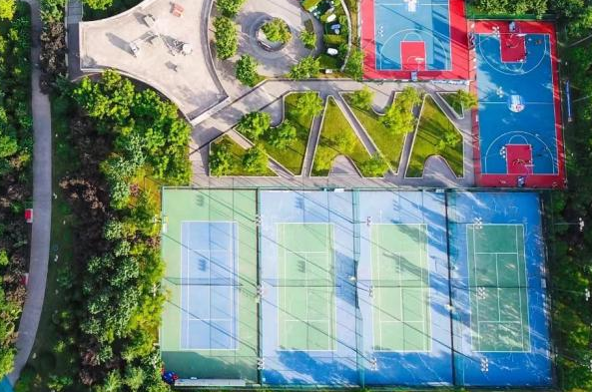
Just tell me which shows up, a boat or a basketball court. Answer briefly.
basketball court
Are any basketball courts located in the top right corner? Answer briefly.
Yes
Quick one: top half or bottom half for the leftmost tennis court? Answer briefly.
bottom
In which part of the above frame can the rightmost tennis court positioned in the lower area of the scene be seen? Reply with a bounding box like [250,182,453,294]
[450,193,552,387]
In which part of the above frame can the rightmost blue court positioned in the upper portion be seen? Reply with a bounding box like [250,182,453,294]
[471,21,568,189]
